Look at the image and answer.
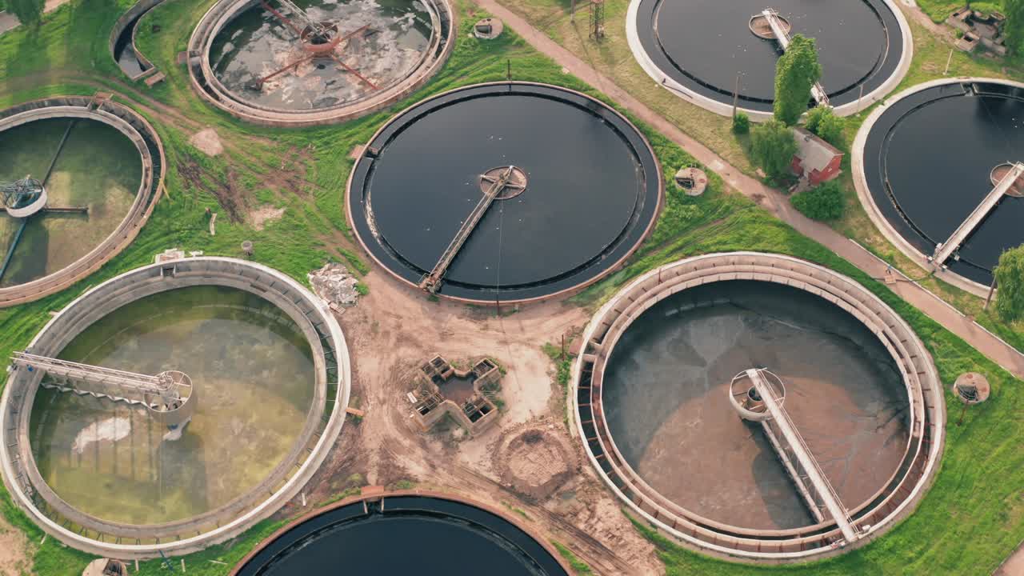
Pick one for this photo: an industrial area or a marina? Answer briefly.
industrial area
